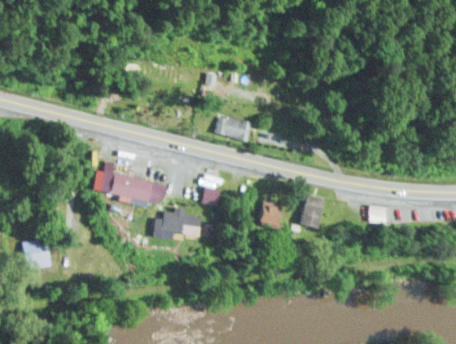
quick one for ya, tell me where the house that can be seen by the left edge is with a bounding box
[22,241,54,273]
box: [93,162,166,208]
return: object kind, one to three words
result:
building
